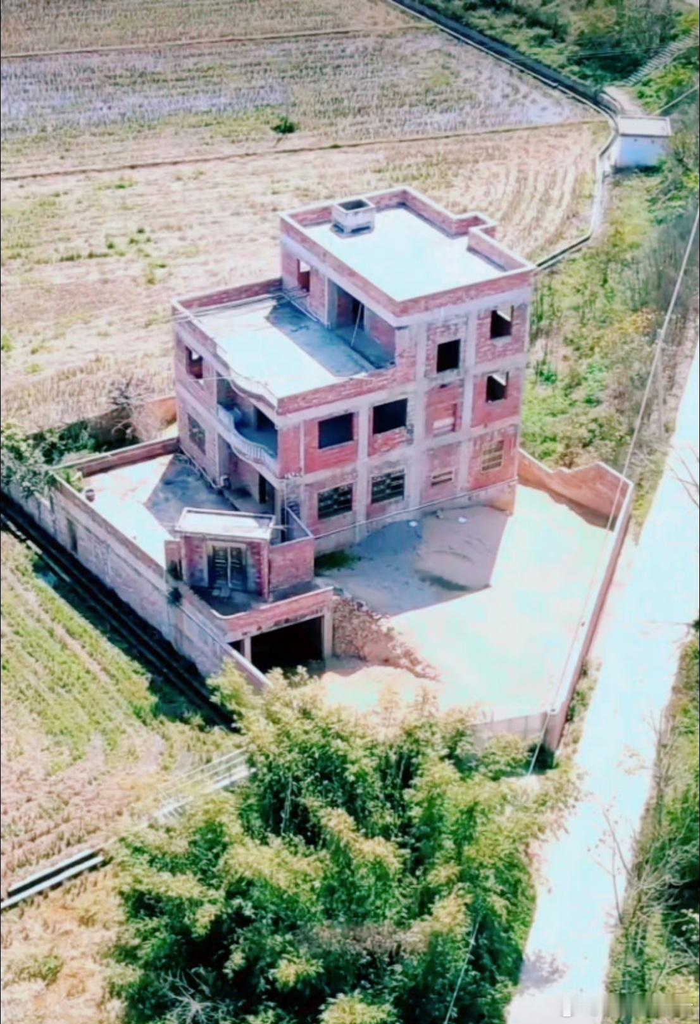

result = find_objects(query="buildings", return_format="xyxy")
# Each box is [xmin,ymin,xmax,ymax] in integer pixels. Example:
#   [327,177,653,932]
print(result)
[610,114,670,176]
[179,578,334,674]
[173,189,534,564]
